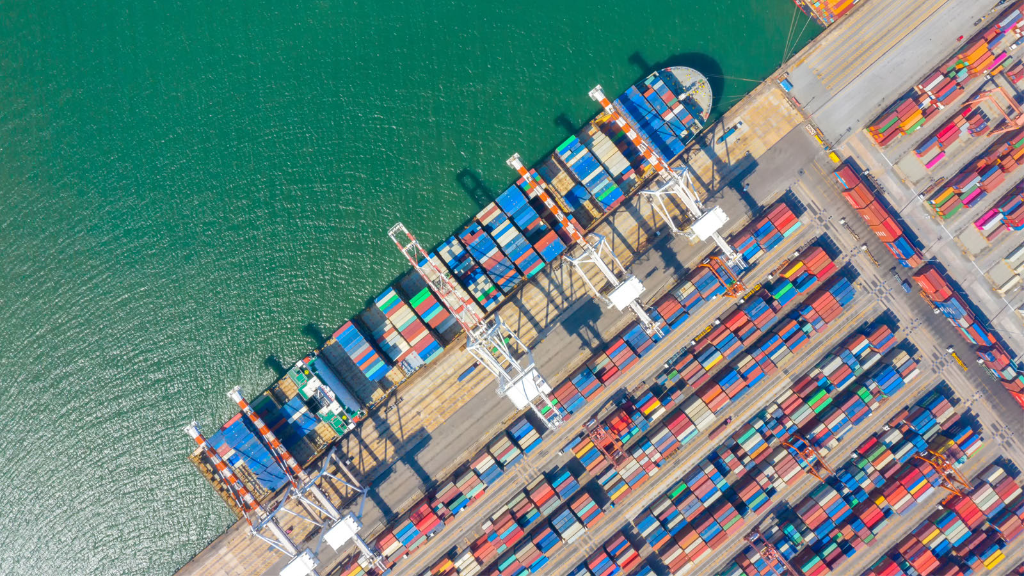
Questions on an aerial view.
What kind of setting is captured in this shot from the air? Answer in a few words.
port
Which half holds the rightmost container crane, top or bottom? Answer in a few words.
top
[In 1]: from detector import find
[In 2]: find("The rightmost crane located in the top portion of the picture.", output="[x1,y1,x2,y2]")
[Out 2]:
[961,86,1024,139]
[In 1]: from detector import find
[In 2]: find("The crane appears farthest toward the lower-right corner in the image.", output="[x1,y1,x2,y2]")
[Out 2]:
[916,449,974,499]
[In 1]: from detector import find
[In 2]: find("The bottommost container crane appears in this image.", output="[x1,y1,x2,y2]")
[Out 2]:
[743,527,796,576]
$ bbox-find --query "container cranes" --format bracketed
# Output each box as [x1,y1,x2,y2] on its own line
[697,255,748,299]
[586,79,746,271]
[961,86,1024,139]
[916,449,974,499]
[226,384,388,567]
[743,527,796,576]
[506,148,665,337]
[782,432,835,484]
[388,223,566,429]
[581,414,627,468]
[183,420,335,576]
